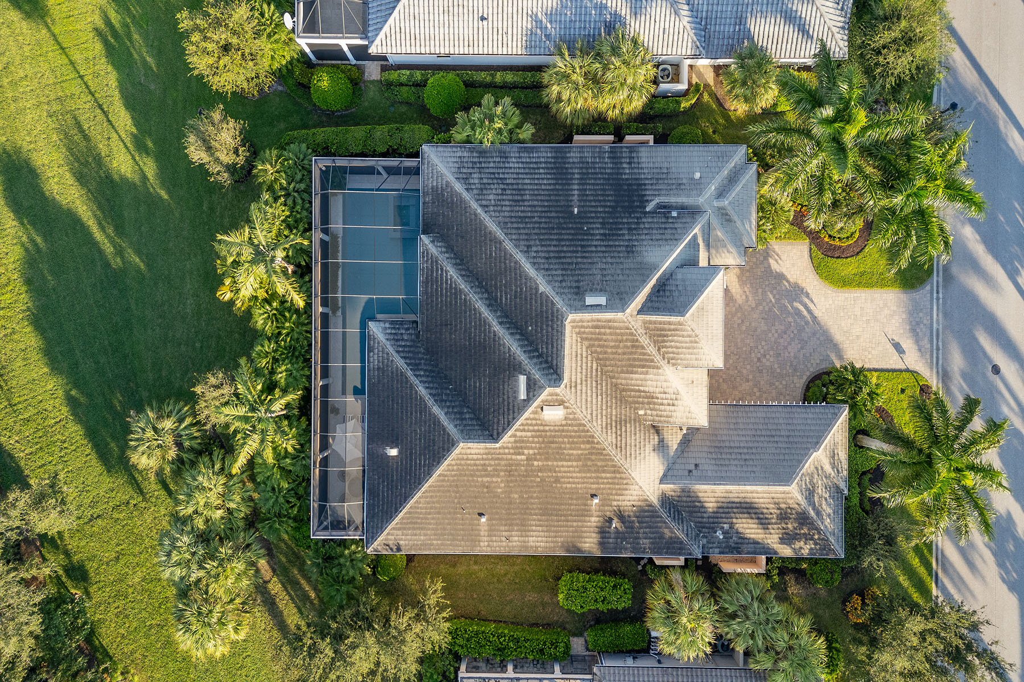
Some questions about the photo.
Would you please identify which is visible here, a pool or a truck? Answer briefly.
pool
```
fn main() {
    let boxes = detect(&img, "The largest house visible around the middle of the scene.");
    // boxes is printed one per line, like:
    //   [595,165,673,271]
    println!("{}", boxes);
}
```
[365,143,850,559]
